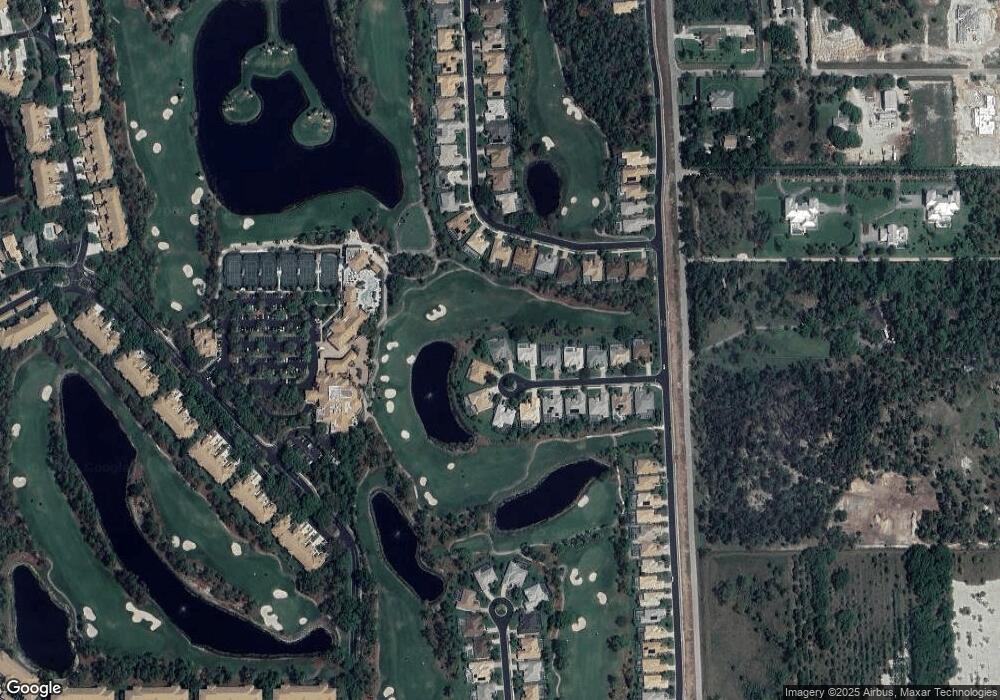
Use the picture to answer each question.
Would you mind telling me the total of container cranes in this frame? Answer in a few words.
0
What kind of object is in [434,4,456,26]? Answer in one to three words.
house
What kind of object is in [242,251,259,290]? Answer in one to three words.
tennis court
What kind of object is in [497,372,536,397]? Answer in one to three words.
roundabout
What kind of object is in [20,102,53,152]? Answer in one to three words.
building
